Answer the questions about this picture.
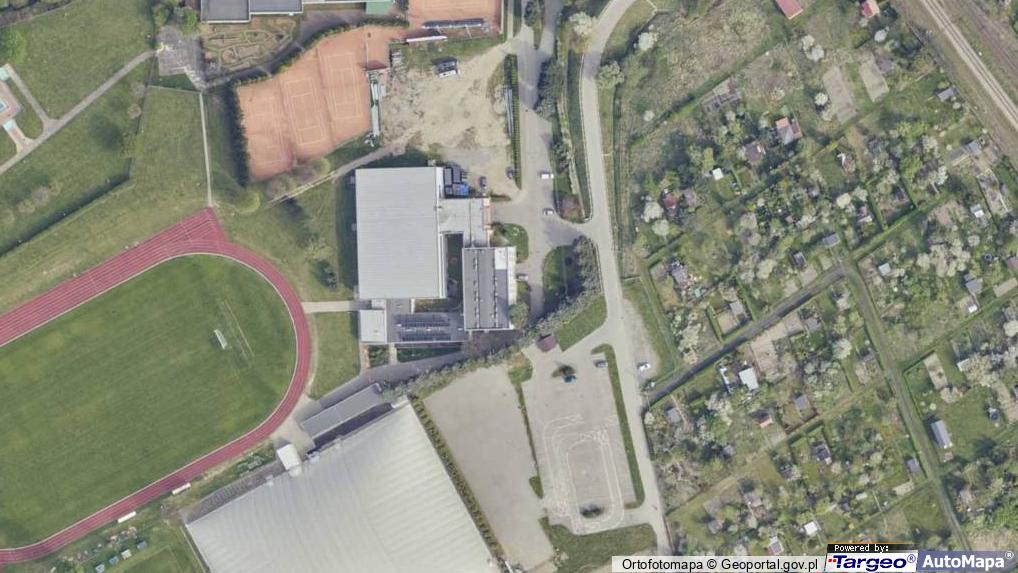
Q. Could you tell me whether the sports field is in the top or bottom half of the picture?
bottom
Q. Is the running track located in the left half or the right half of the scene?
left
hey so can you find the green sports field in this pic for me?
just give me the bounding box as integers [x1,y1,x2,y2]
[0,254,296,549]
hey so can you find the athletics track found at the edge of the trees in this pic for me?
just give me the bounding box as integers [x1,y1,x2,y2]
[0,205,311,564]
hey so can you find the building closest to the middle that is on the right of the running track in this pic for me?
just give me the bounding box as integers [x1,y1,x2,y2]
[462,247,517,332]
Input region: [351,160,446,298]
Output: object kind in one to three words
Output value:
building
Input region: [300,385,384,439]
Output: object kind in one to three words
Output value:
building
